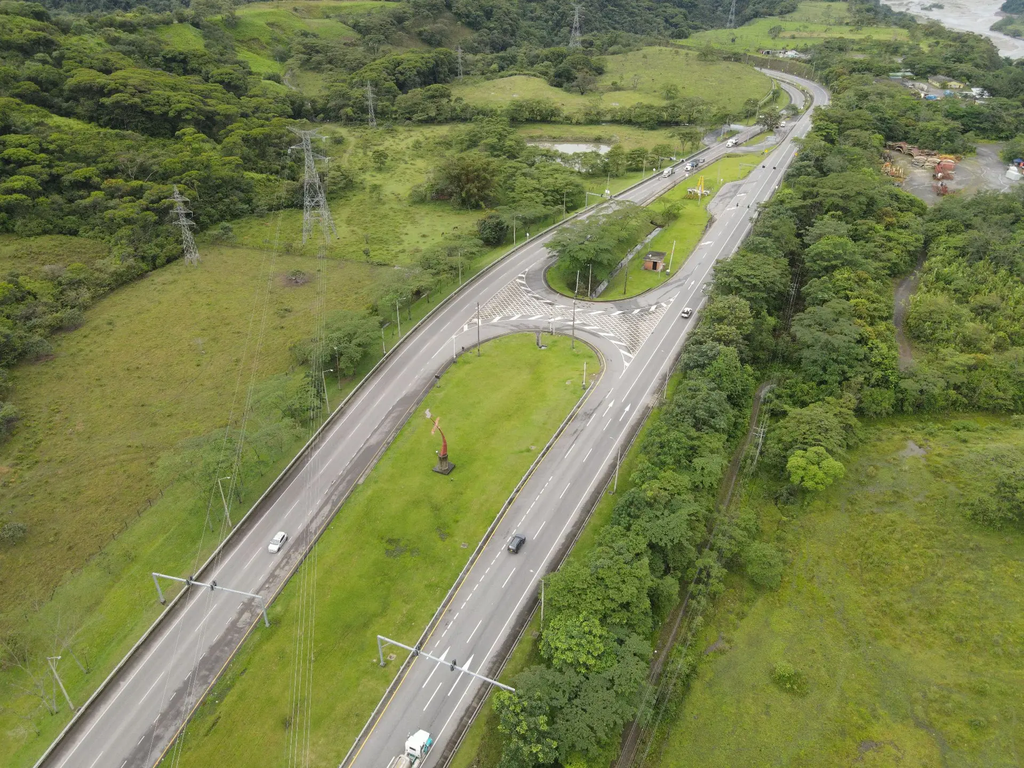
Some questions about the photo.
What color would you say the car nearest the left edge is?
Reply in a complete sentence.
The car nearest the left edge is white.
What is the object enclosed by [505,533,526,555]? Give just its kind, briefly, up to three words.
car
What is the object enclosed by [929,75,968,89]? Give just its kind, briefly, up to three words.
house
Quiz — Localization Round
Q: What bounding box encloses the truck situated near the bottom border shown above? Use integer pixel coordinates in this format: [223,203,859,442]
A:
[392,727,435,768]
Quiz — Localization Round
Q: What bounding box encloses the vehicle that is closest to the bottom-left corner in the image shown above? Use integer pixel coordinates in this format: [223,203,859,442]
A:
[265,528,289,553]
